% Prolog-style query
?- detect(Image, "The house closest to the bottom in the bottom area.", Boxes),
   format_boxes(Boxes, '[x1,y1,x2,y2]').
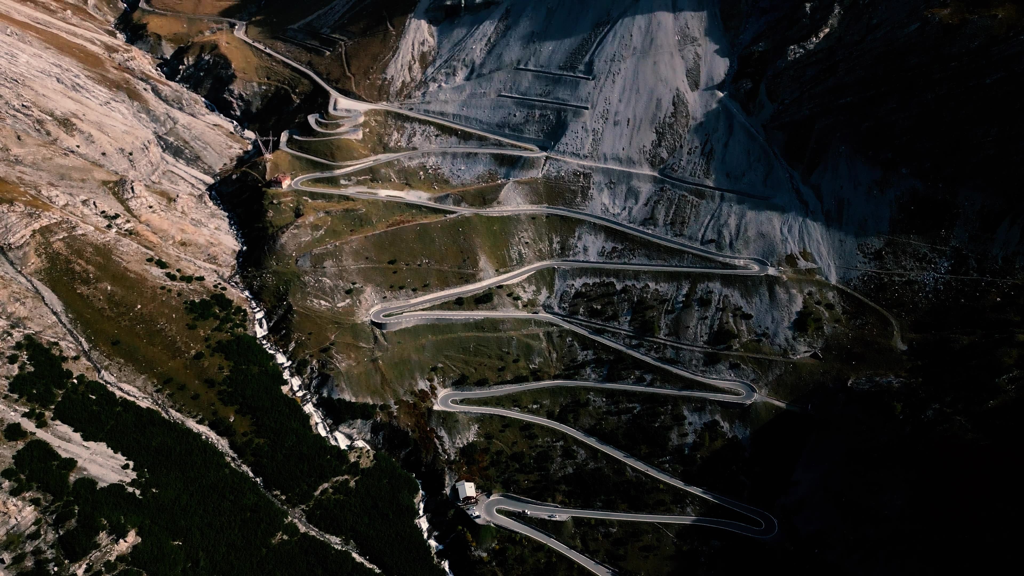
[452,479,475,511]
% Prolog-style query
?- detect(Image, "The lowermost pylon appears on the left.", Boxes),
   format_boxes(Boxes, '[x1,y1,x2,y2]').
[249,127,275,158]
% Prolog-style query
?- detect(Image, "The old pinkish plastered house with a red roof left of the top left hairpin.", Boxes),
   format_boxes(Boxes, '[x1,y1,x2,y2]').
[267,169,294,188]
